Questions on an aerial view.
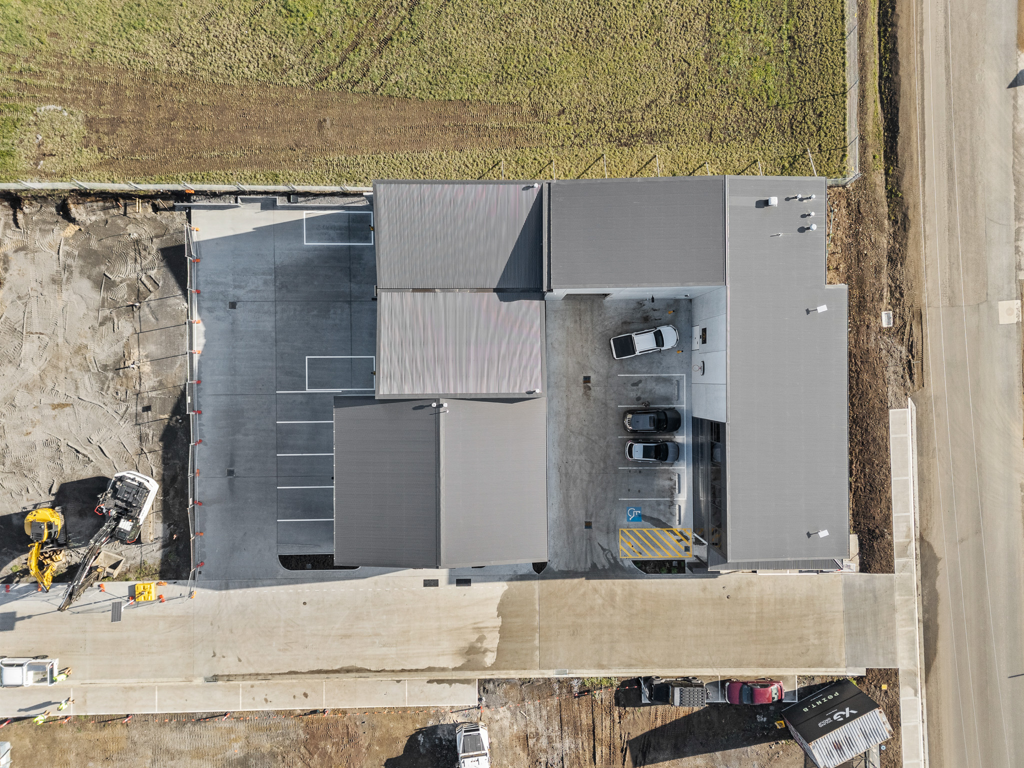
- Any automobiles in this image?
Yes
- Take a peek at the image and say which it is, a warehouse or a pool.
warehouse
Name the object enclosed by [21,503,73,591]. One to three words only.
work vehicle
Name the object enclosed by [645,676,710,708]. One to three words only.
car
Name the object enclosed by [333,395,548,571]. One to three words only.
warehouse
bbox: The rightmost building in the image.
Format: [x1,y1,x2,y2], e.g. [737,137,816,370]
[690,176,850,571]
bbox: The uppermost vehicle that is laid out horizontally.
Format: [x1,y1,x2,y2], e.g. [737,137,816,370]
[611,326,681,359]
